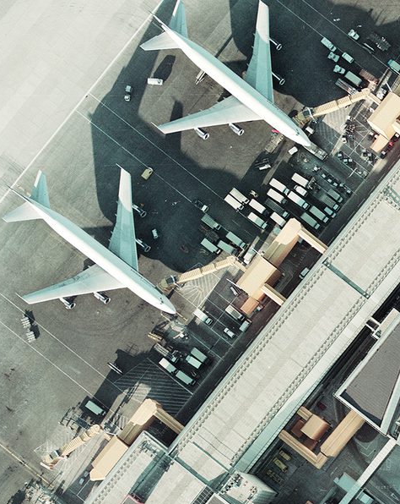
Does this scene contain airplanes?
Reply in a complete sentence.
Yes, the picture does show an airplane.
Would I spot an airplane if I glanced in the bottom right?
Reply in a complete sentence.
No, no airplane appears in the bottom right.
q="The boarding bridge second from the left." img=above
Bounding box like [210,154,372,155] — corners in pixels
[165,256,248,289]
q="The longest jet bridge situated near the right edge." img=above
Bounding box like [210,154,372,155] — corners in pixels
[303,87,385,121]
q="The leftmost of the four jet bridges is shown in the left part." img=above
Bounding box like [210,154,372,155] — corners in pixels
[51,422,114,460]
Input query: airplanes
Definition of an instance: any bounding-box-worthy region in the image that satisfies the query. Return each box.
[6,165,174,315]
[145,0,312,147]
